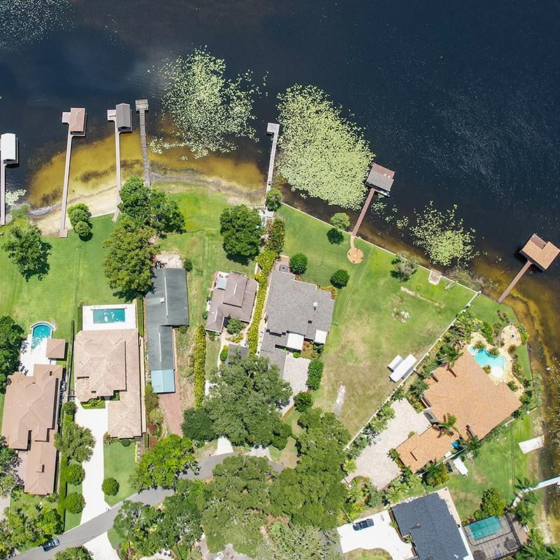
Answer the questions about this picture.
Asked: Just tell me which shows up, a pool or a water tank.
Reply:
pool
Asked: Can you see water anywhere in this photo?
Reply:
Yes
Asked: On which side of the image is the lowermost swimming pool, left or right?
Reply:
right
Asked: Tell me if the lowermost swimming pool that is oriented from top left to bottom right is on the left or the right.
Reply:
right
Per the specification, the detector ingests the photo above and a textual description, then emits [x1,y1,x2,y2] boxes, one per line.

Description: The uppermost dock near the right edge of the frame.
[498,233,560,304]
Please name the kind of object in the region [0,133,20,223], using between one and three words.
pier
